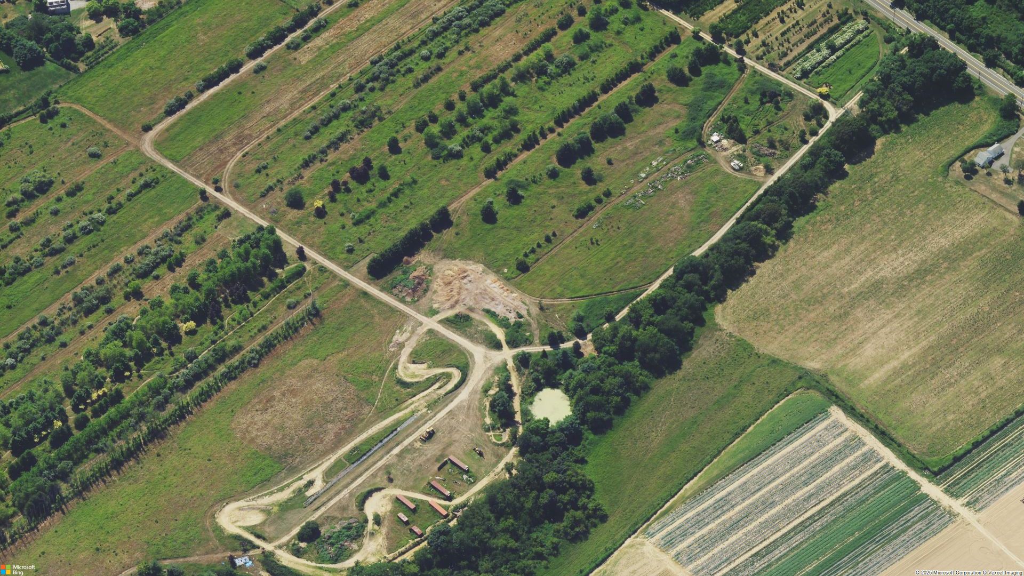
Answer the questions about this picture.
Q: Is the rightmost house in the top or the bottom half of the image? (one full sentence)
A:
The top half of the photo is where the rightmost house is.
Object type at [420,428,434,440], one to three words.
vehicle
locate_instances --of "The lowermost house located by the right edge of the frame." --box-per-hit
[976,144,1007,170]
